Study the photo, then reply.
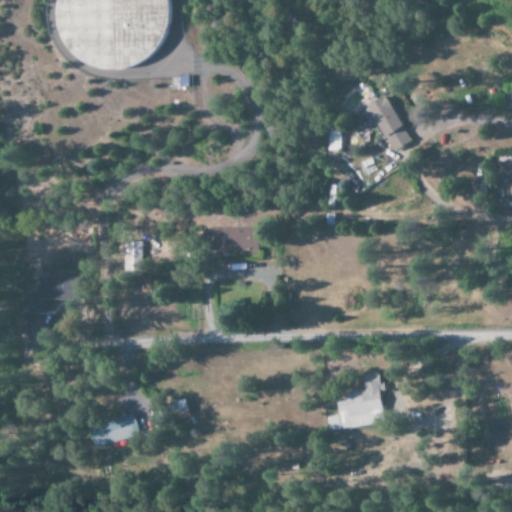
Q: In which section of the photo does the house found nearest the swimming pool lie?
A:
top right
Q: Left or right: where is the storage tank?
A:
left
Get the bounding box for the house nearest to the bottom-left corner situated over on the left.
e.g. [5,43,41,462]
[90,414,140,446]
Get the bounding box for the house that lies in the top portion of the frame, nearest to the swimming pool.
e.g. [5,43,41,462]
[368,95,412,154]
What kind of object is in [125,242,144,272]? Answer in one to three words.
house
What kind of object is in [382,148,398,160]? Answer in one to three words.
vehicle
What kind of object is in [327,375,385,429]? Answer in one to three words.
house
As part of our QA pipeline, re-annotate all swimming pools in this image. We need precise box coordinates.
[346,90,364,110]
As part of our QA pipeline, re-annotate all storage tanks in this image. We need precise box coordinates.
[56,0,172,68]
